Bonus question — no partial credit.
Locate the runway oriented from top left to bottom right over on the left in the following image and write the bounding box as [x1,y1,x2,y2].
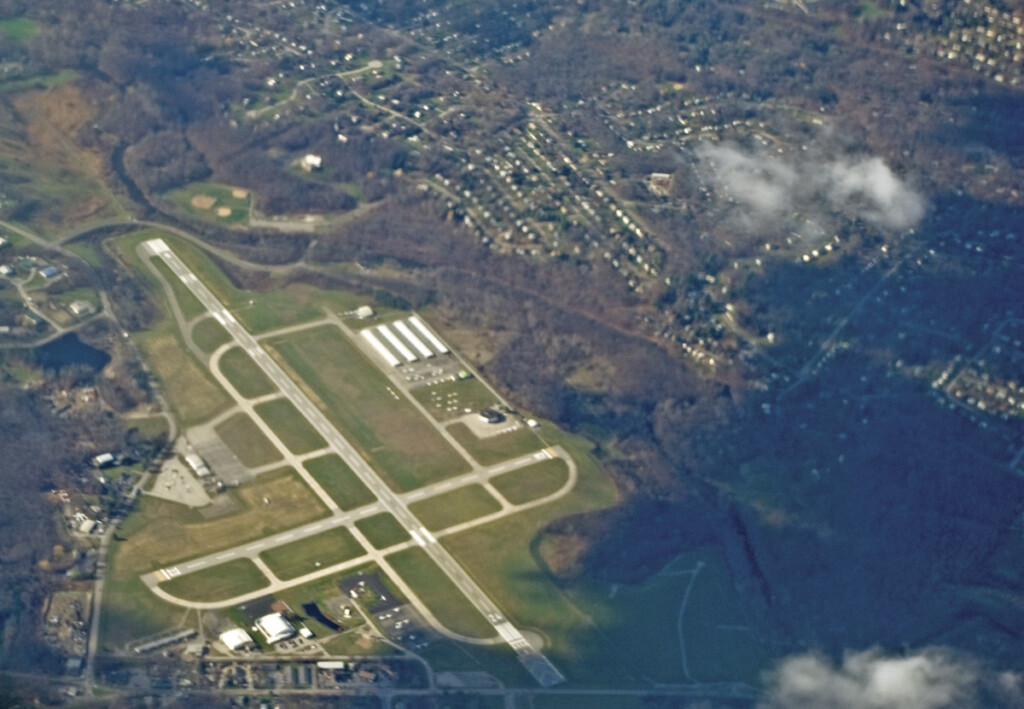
[147,238,562,684]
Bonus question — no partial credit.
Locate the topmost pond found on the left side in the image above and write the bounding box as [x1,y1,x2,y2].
[33,332,112,376]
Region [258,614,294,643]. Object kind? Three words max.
hangar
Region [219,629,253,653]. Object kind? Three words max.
hangar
